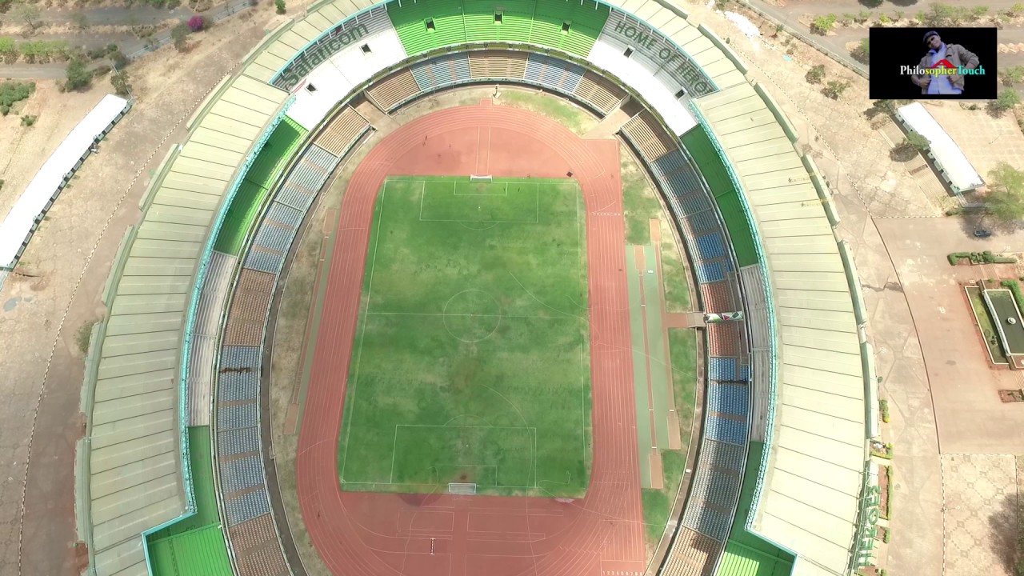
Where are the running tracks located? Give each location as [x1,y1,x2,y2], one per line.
[294,95,647,576]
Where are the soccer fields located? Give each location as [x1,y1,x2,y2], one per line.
[338,175,594,499]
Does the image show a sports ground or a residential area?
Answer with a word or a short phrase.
sports ground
